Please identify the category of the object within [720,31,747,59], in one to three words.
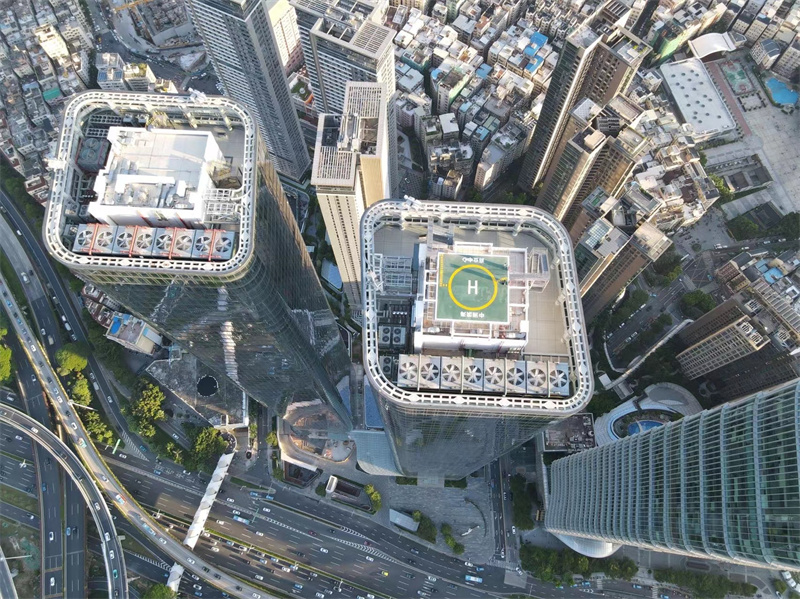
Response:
house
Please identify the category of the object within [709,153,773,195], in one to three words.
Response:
building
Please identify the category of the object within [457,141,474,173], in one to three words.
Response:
house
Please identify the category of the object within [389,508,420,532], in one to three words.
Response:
building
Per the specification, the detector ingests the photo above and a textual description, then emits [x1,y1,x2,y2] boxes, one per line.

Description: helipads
[415,239,531,353]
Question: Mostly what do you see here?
buildings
